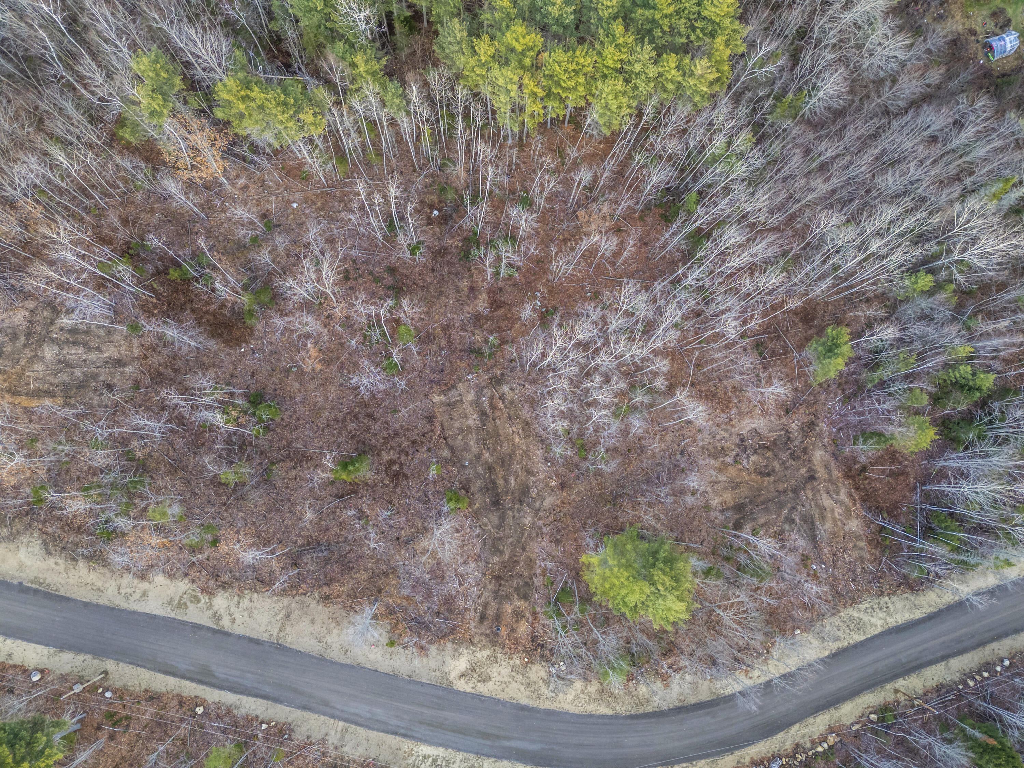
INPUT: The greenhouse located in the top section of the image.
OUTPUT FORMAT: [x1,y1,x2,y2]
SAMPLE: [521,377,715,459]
[983,28,1024,61]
